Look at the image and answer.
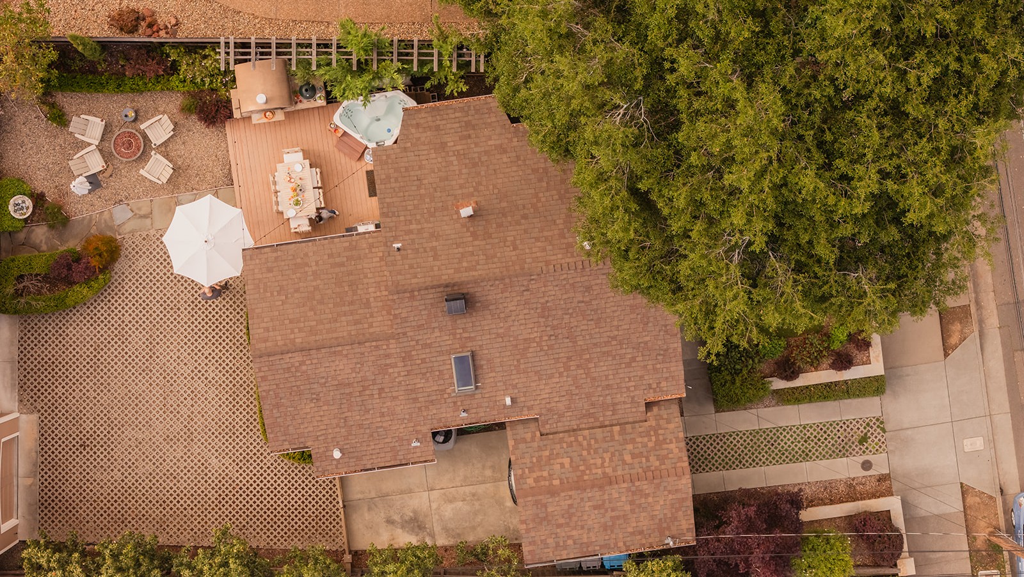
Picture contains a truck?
No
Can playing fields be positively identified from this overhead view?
No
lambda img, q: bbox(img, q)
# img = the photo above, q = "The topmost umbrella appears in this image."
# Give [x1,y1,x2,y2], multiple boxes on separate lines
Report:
[65,171,104,199]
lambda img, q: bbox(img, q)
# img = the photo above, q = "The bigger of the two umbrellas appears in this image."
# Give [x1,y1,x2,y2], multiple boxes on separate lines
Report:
[163,194,253,286]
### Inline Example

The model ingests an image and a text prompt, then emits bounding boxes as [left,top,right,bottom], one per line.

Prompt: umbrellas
[65,171,104,199]
[163,194,253,286]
